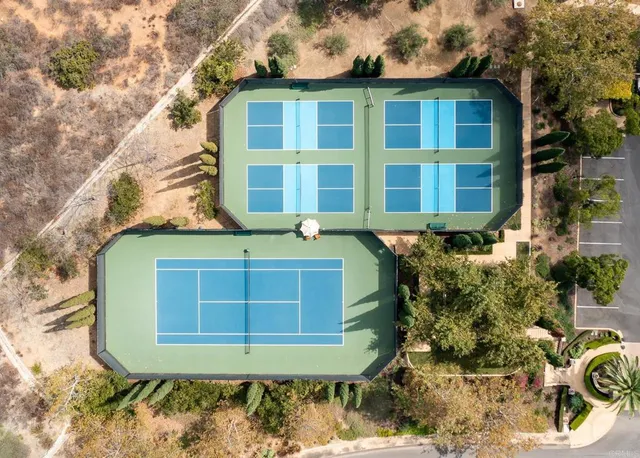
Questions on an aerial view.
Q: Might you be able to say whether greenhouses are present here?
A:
No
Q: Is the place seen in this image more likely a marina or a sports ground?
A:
sports ground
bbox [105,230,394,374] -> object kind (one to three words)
tennis court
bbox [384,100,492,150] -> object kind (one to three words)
sports court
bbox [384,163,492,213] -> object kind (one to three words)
sports court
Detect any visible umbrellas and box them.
[300,217,319,237]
